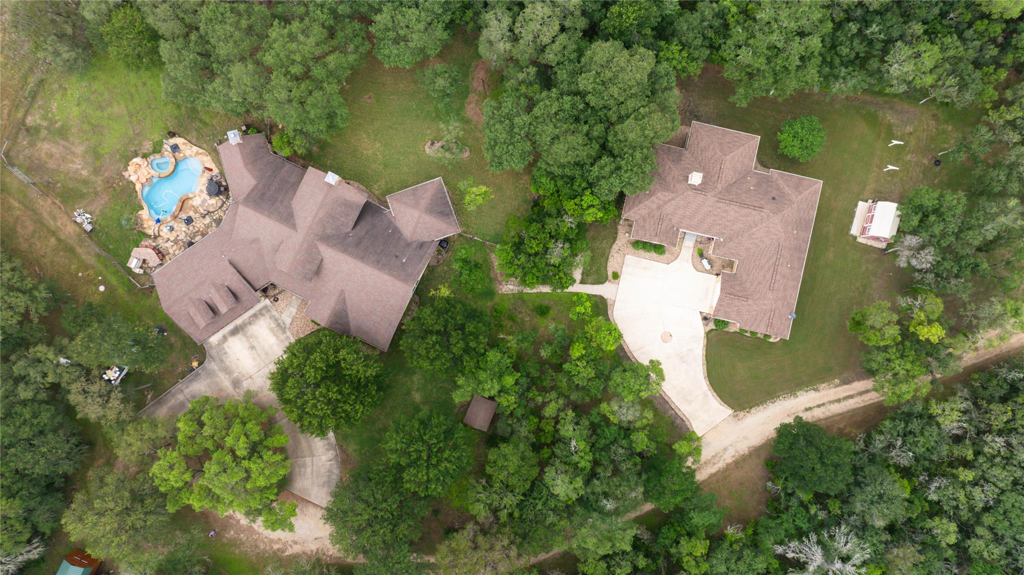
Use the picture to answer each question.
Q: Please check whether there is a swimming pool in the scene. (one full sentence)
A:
Yes, there is a swimming pool in the image.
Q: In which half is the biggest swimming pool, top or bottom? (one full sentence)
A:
The top half of the photo is where the biggest swimming pool is.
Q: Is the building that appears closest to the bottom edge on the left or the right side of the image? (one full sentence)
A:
The building that appears closest to the bottom edge is on the left side of the image.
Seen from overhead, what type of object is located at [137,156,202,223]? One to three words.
swimming pool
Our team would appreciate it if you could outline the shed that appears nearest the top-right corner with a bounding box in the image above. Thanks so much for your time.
[851,200,903,243]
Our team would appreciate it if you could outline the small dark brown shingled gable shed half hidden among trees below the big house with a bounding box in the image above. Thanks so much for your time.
[463,396,494,434]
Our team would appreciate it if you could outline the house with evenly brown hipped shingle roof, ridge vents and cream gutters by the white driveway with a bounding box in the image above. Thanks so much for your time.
[621,121,823,340]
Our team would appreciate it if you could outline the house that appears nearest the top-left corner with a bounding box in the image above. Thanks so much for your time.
[152,129,461,352]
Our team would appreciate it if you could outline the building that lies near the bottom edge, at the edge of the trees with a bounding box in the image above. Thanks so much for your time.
[58,546,115,575]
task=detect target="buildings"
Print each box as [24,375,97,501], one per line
[463,396,494,434]
[58,546,115,575]
[621,121,823,340]
[152,129,461,352]
[851,200,903,243]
